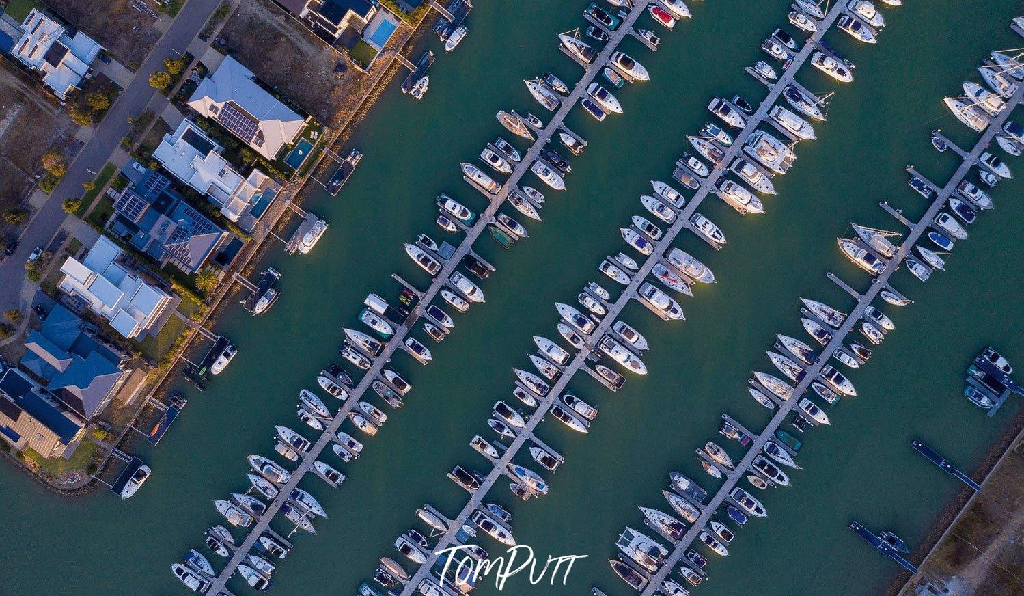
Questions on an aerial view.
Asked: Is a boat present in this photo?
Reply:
Yes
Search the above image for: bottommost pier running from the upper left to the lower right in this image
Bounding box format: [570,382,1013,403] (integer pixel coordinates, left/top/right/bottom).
[850,521,923,578]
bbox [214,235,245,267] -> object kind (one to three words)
swimming pool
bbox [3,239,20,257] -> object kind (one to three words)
car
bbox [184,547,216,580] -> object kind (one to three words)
boat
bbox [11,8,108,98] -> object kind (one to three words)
house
